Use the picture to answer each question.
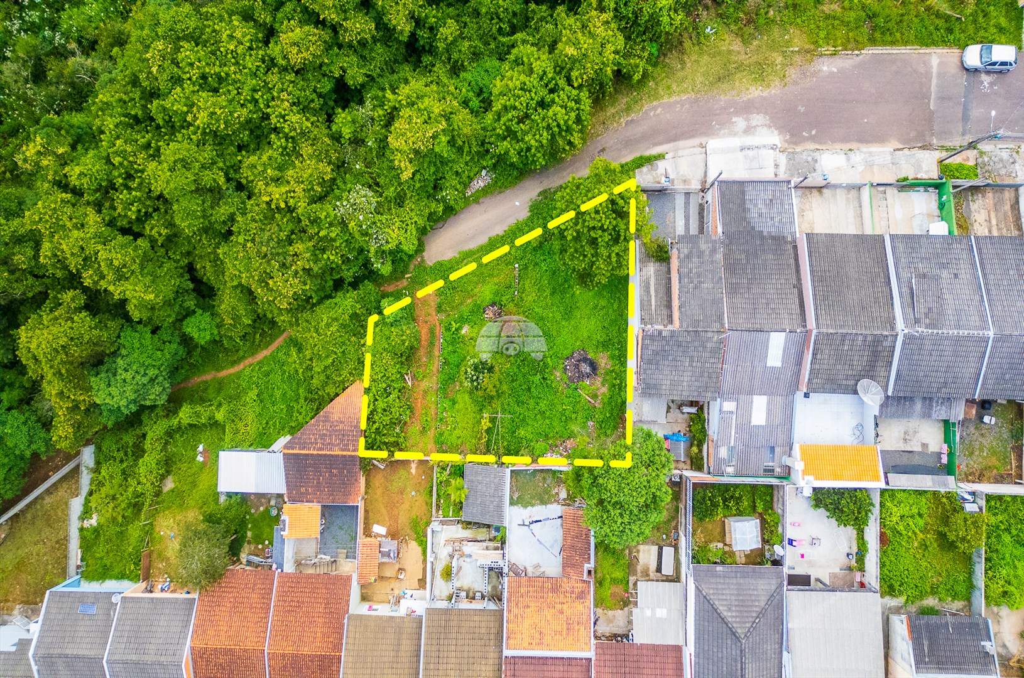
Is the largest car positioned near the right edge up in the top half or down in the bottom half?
top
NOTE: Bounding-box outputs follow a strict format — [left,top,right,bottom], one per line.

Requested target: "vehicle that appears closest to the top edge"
[959,42,1020,71]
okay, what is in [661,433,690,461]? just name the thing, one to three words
shed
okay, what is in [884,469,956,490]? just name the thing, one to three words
shed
